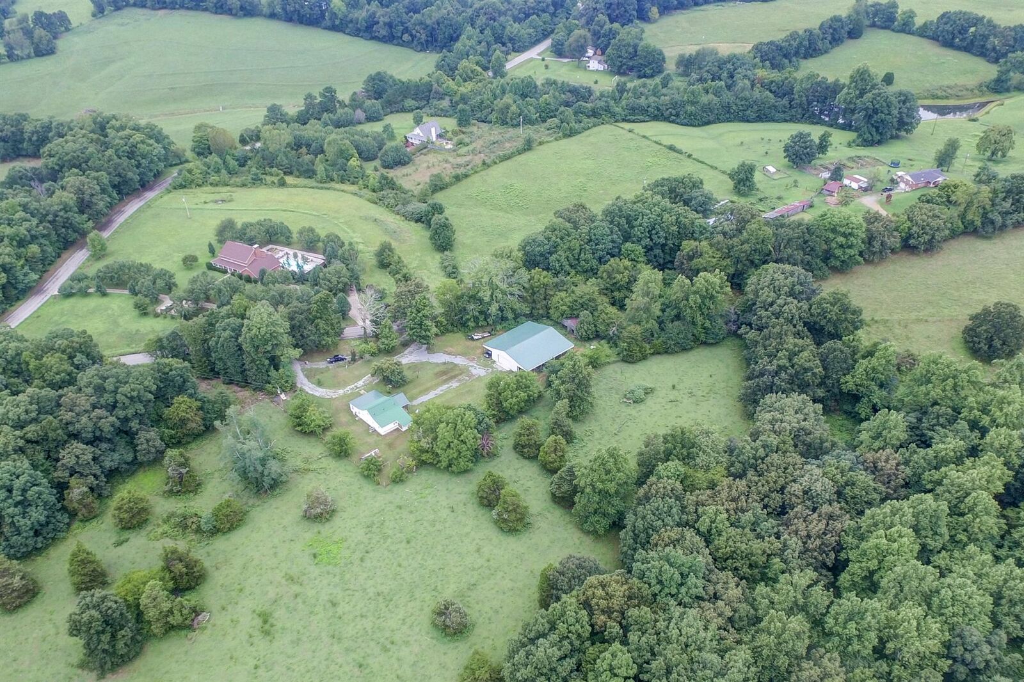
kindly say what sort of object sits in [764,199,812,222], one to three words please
shed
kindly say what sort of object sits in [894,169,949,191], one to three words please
house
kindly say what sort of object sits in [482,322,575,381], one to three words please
barn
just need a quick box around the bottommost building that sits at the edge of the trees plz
[347,389,414,435]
